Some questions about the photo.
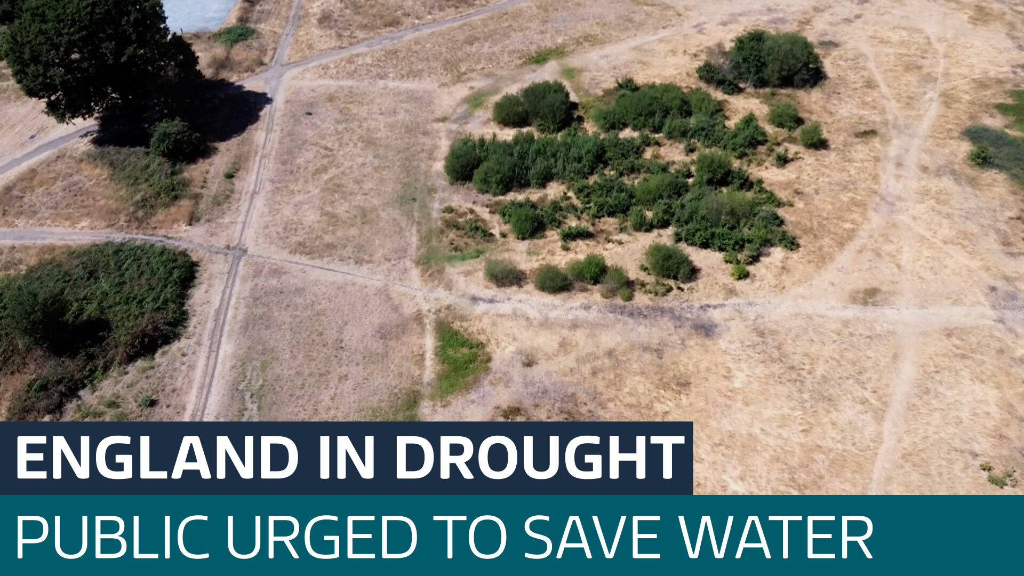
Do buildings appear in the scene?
No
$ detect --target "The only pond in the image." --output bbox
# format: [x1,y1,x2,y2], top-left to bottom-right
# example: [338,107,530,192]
[70,0,236,37]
